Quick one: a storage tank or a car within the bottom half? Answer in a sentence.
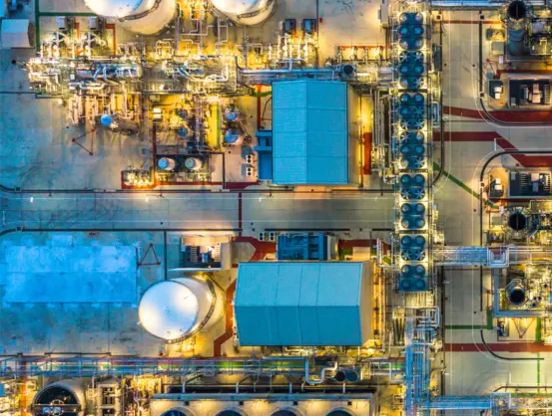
You can see a storage tank within the bottom half.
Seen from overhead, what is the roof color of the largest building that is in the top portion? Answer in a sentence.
The color of the roof on the largest building that is in the top portion is blue.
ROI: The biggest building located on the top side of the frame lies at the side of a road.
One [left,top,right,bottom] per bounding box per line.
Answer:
[270,76,357,186]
